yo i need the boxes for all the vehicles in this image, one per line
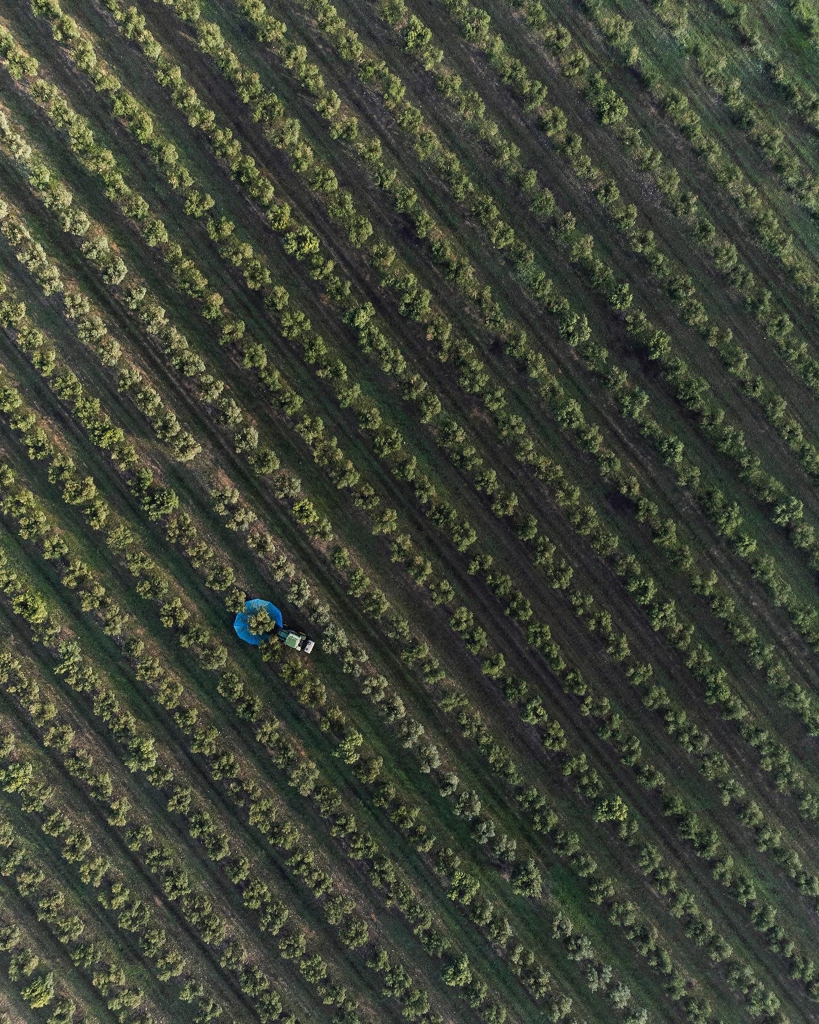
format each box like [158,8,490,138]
[275,624,315,654]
